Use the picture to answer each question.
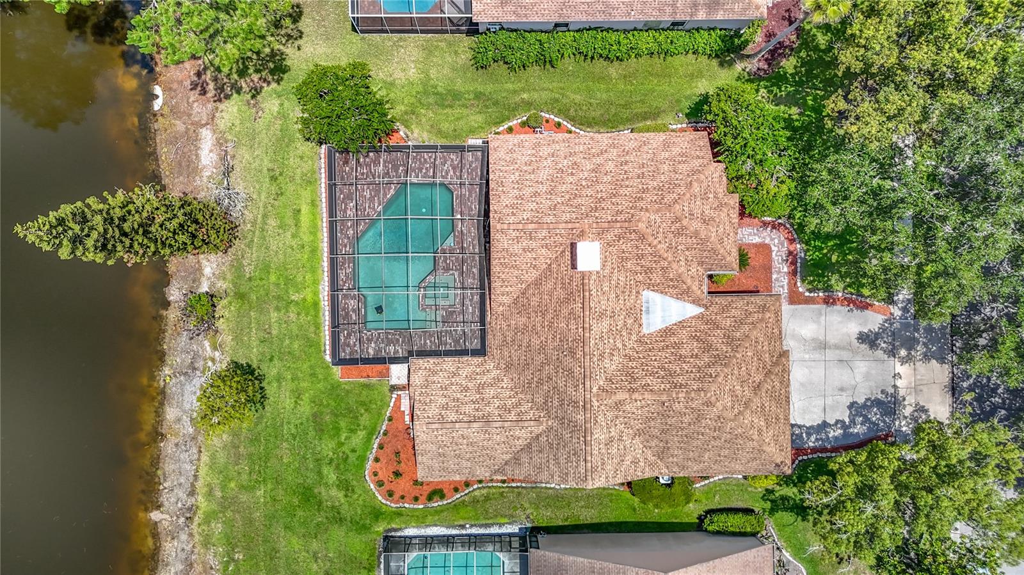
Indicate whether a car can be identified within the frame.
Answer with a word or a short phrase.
No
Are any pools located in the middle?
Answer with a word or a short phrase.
Yes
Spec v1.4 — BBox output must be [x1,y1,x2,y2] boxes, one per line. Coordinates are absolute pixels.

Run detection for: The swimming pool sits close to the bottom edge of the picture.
[405,554,505,575]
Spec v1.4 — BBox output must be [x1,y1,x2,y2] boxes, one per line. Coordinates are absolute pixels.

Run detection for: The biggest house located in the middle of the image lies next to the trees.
[410,132,793,488]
